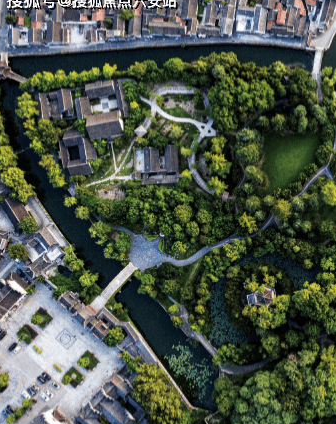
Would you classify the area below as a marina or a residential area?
residential area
